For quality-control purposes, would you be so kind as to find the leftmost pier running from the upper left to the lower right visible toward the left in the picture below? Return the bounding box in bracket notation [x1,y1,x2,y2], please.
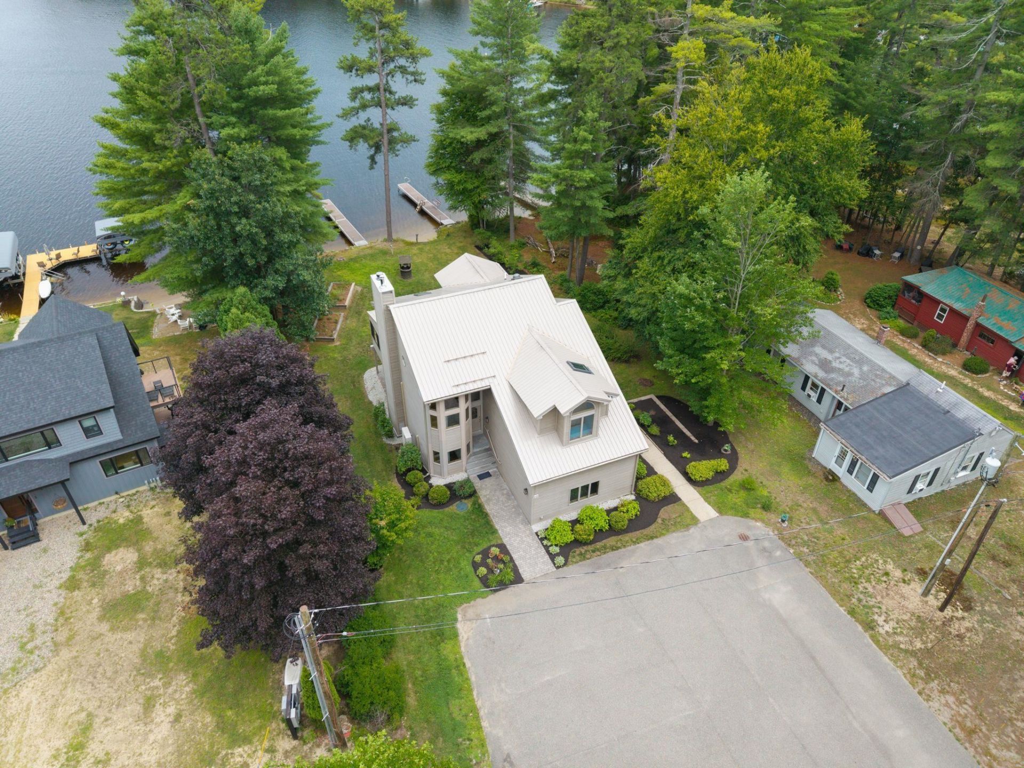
[319,195,368,245]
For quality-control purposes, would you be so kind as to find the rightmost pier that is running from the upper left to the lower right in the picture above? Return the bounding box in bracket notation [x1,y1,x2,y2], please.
[397,179,455,225]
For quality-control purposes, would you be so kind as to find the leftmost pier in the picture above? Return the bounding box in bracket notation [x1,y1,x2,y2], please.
[15,239,100,319]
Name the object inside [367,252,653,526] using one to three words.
house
